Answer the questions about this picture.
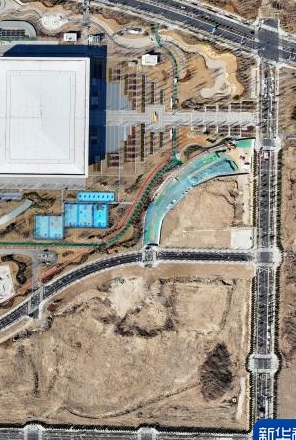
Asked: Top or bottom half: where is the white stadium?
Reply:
top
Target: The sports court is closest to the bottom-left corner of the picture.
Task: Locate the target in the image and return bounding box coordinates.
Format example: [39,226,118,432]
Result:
[33,214,65,240]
